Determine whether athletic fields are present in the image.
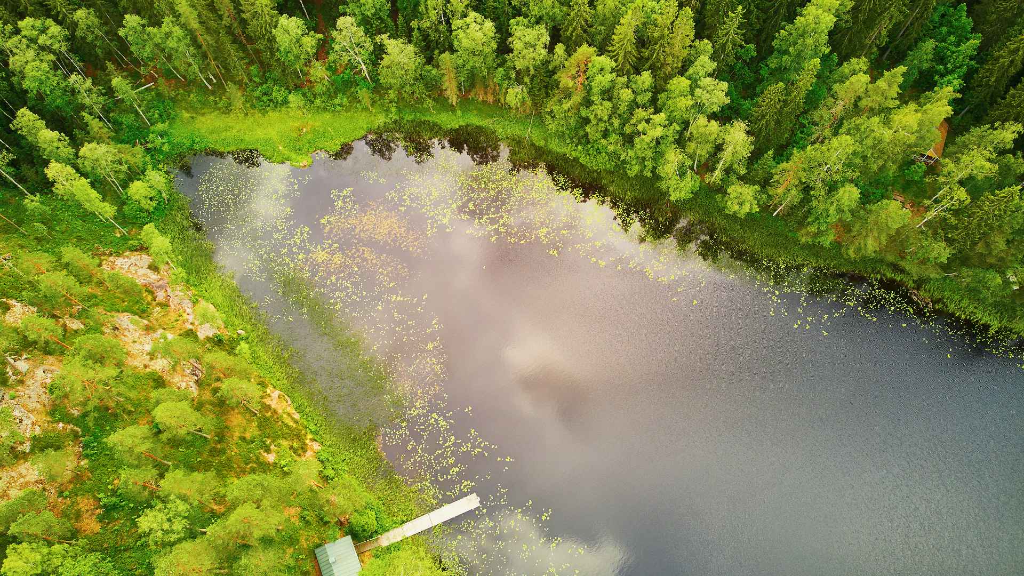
No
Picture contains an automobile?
No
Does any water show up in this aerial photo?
Yes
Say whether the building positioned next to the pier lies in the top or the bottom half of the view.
bottom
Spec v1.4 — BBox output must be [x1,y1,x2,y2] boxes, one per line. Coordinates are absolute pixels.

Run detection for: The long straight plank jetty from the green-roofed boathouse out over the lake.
[354,493,481,554]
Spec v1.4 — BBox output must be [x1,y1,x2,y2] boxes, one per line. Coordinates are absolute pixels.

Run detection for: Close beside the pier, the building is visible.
[314,533,364,576]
